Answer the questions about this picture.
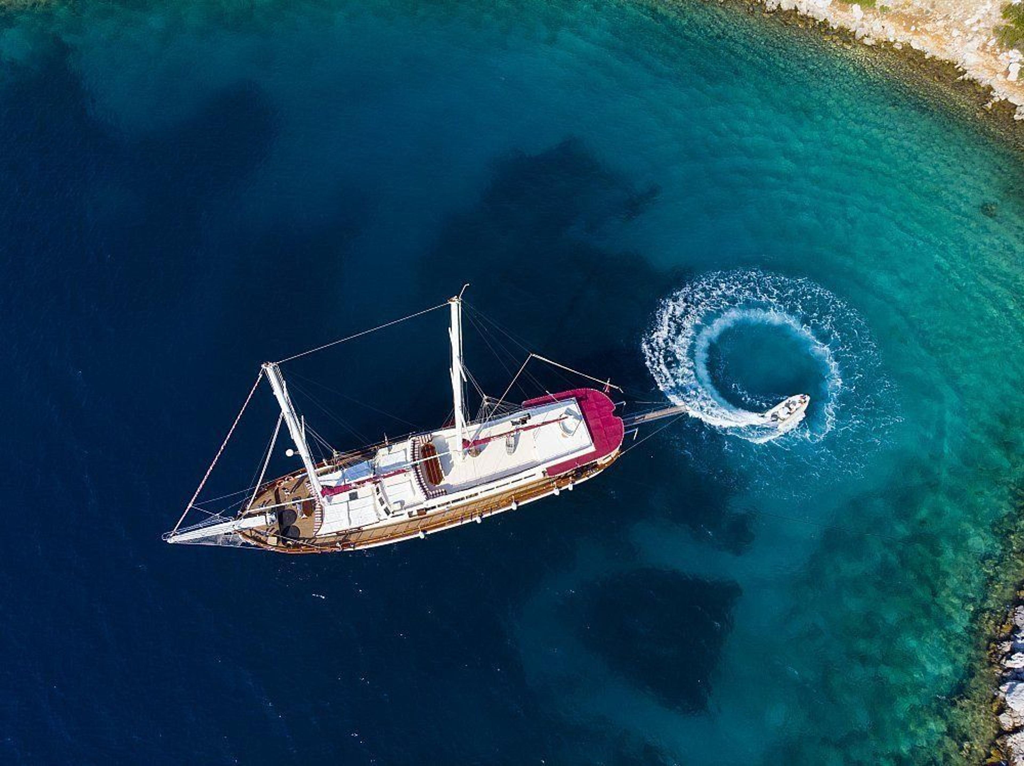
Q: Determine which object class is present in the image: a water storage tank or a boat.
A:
boat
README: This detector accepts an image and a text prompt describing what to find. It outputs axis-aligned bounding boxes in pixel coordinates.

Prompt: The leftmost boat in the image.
[158,283,688,554]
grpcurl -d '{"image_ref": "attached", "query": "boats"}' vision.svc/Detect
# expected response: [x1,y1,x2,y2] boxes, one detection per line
[761,395,810,430]
[158,283,688,554]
